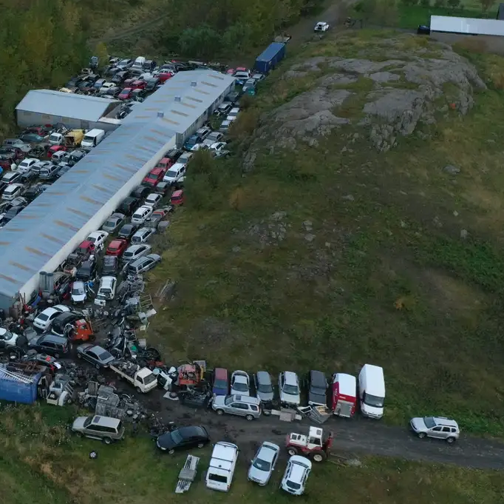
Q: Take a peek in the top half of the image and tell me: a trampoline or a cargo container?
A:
cargo container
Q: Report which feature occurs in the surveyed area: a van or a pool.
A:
van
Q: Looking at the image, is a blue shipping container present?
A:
Yes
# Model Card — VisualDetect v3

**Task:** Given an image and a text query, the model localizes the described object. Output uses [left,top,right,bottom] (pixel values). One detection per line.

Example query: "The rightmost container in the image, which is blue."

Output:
[255,43,283,72]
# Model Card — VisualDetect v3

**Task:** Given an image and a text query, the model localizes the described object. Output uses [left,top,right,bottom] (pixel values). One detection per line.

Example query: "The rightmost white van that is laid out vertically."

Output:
[361,358,390,416]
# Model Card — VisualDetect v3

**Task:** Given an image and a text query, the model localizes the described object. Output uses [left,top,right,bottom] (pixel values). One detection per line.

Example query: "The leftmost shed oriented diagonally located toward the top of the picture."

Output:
[0,73,225,318]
